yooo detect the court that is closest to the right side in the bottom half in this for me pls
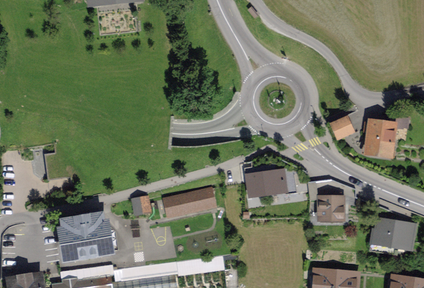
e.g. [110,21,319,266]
[148,226,176,261]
